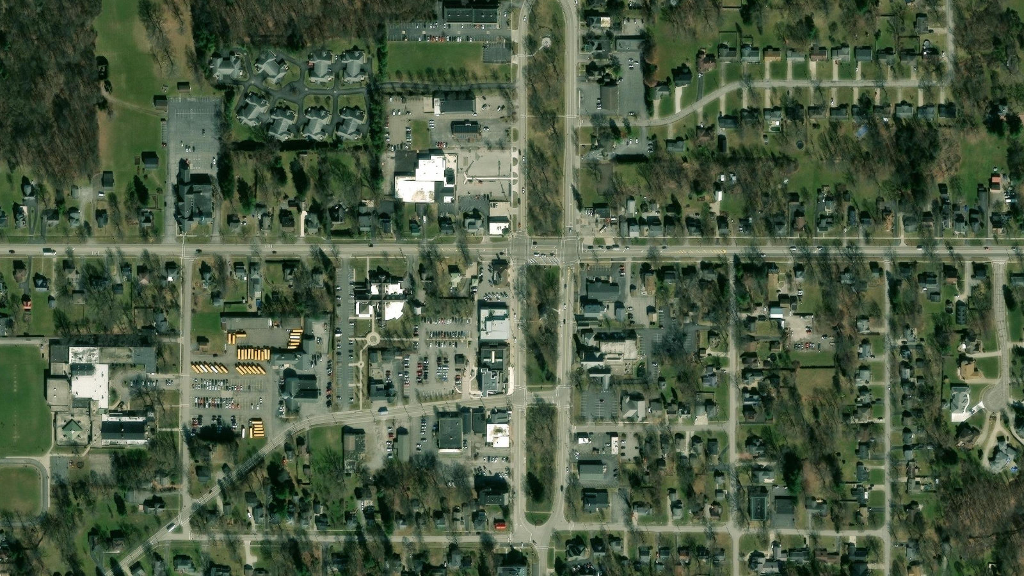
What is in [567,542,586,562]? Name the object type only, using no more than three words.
house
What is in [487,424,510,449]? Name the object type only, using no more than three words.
building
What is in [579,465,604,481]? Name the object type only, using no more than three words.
house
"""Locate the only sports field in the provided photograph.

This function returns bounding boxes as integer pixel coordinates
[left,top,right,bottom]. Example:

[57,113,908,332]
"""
[0,346,51,456]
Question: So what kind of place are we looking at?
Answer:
residential area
